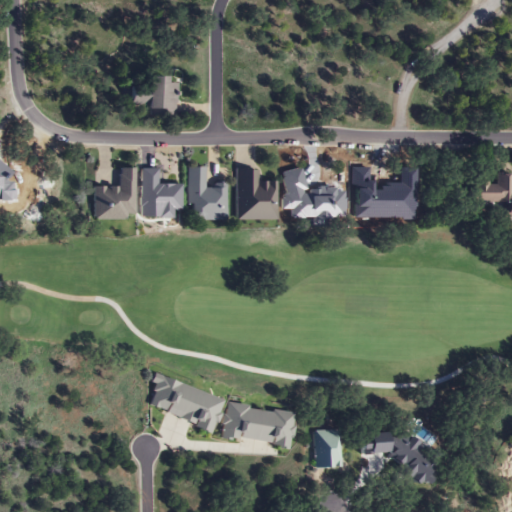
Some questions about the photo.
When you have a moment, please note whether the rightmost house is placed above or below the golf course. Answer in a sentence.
The position of the rightmost house is above the golf course.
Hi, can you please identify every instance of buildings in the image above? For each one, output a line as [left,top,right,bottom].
[350,167,419,218]
[134,76,181,113]
[374,432,438,486]
[235,168,279,220]
[188,166,230,220]
[312,430,344,468]
[282,168,348,218]
[94,168,138,220]
[142,168,184,218]
[149,372,224,434]
[220,402,296,450]
[480,173,512,204]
